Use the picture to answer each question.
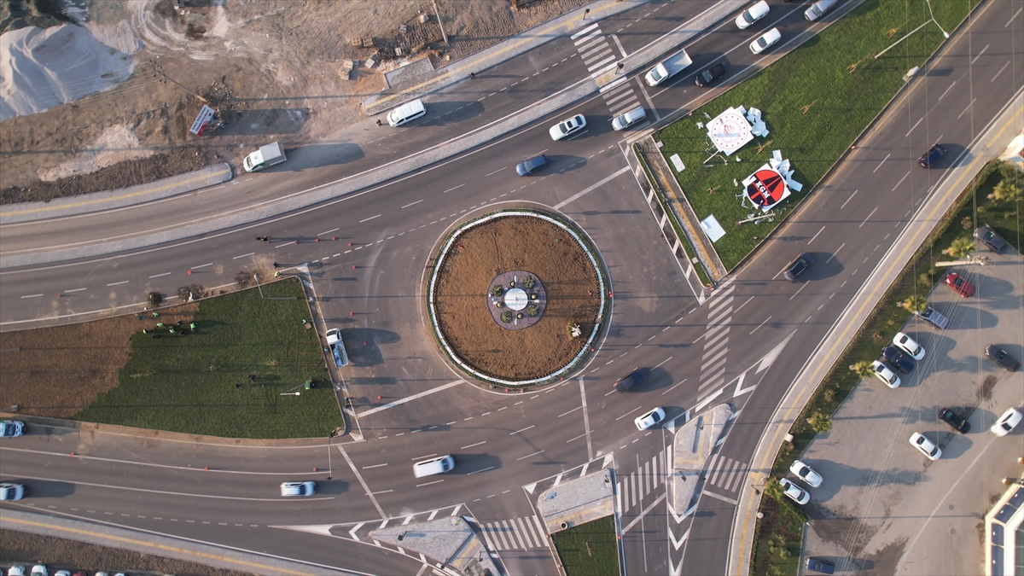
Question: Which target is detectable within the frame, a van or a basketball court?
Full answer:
There is a van in the scene.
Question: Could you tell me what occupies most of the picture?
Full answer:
For the most part, this view shows paved ground.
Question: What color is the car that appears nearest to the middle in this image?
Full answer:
The color of the car that appears nearest to the middle is blue.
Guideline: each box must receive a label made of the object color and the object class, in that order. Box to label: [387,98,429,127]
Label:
white van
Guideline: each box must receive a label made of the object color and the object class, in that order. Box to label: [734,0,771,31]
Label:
white van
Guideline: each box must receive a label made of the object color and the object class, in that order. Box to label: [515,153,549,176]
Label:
blue car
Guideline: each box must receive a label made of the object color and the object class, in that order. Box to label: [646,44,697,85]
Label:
white truck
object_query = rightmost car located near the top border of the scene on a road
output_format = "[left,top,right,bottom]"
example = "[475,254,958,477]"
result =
[802,0,841,24]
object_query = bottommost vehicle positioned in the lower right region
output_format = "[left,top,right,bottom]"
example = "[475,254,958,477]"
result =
[804,555,837,575]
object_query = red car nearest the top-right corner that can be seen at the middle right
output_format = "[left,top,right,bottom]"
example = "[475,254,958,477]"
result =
[941,272,978,299]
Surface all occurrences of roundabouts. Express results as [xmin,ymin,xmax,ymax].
[426,207,607,389]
